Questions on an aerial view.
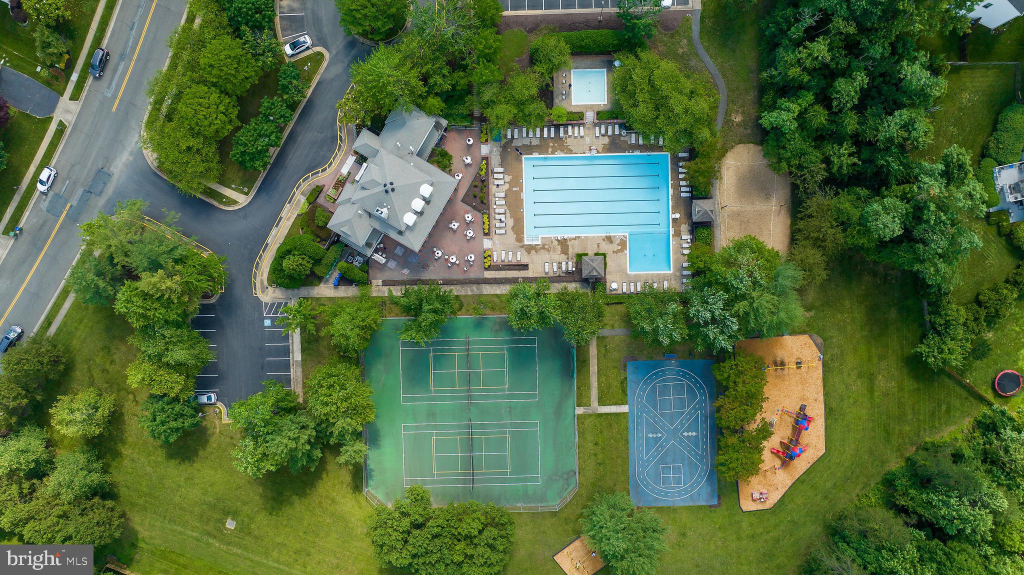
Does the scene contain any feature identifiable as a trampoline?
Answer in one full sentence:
Yes, this view includes a trampoline.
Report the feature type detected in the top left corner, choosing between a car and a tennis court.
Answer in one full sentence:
Visible in the top left corner is a car.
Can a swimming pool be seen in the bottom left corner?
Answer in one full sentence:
No, no swimming pool appears in the bottom left corner.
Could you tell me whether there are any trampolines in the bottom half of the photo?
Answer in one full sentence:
Yes, you'll find a trampoline in the bottom half of the photo.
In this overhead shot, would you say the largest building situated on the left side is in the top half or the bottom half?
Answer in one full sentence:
The largest building situated on the left side is in the top half of the image.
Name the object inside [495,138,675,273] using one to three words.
swimming pool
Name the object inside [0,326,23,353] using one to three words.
car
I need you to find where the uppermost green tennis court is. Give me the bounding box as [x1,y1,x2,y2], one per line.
[363,316,575,418]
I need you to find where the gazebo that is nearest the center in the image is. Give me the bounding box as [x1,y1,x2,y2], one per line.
[582,256,604,281]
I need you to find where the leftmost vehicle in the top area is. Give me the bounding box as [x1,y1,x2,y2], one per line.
[38,166,57,192]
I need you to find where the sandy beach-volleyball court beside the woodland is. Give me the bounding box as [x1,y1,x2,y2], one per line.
[720,143,791,265]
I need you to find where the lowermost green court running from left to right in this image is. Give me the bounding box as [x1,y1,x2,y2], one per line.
[364,414,577,506]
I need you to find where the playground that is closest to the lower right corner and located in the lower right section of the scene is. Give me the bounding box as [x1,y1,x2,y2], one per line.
[734,331,826,512]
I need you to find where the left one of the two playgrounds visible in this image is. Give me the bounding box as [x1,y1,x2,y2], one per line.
[552,535,607,575]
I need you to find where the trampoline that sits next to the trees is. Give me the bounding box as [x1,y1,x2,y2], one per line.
[994,370,1022,397]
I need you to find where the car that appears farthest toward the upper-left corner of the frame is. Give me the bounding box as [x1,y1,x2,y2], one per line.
[88,48,110,78]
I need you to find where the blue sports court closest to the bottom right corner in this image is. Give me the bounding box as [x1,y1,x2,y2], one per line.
[627,360,718,507]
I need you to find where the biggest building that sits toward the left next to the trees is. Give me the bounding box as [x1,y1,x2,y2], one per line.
[326,100,459,257]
